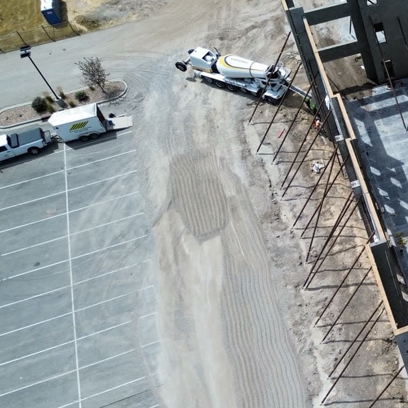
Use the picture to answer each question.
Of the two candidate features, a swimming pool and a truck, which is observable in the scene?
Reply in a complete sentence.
Of the two, only a truck appears.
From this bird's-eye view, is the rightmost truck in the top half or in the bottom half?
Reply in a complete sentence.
The rightmost truck sits in the top half of the picture.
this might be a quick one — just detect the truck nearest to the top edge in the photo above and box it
[173,43,312,103]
